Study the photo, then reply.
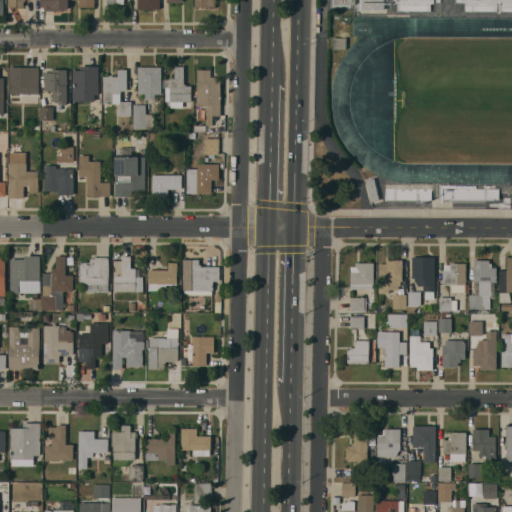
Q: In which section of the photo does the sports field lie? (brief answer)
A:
top right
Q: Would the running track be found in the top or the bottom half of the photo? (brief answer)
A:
top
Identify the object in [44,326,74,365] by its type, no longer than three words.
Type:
house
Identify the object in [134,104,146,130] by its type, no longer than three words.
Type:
building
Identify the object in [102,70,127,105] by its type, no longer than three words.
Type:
house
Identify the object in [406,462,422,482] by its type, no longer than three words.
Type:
building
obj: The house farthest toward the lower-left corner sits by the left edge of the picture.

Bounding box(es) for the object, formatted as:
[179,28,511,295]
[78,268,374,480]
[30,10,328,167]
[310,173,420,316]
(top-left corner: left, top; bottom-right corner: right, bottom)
[12,484,42,506]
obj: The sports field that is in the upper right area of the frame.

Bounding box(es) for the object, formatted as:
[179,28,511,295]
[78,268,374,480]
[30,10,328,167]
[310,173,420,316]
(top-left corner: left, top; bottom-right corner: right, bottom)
[394,36,512,164]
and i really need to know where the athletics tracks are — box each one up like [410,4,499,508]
[332,18,512,183]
